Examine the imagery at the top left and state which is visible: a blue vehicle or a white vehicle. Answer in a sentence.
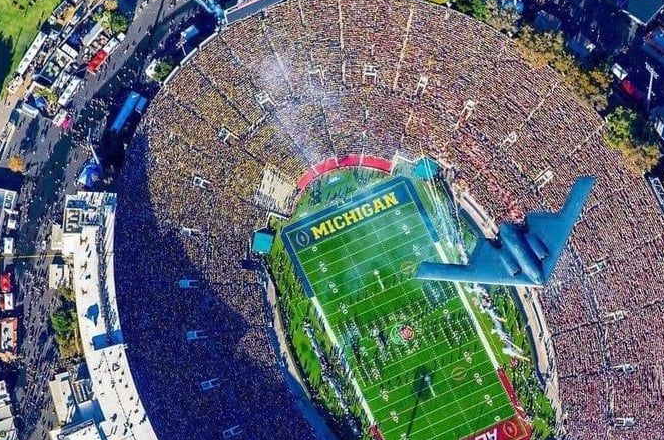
You can see a blue vehicle at the top left.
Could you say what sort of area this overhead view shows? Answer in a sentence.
This looks like a sports ground.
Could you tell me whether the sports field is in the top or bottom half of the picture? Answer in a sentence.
You can find the sports field in the bottom half.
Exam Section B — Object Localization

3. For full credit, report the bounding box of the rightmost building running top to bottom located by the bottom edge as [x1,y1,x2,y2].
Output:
[51,373,79,428]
